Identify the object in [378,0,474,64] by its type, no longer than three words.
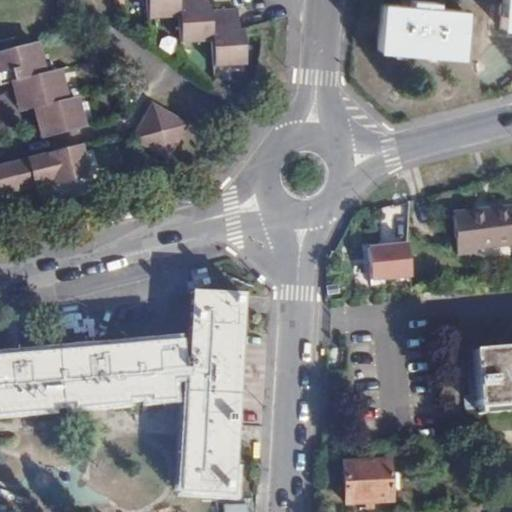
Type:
building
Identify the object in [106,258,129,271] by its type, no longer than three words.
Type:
vehicle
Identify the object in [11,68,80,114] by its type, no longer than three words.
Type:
house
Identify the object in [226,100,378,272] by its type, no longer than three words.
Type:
roundabout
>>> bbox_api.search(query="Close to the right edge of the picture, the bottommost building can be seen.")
[470,334,512,414]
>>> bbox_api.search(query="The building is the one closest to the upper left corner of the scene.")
[0,41,55,83]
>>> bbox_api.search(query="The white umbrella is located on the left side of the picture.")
[159,35,176,54]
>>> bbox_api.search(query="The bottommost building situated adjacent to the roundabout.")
[0,284,250,500]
